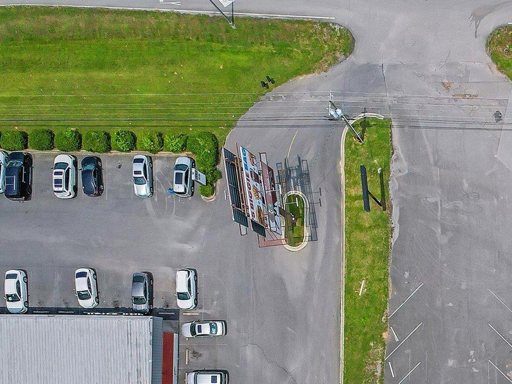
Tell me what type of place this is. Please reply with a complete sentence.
The picture captures a parking lot.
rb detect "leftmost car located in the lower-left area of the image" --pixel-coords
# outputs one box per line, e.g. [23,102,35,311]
[4,269,29,313]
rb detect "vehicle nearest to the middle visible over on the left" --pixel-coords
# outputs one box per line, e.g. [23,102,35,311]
[171,156,195,197]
